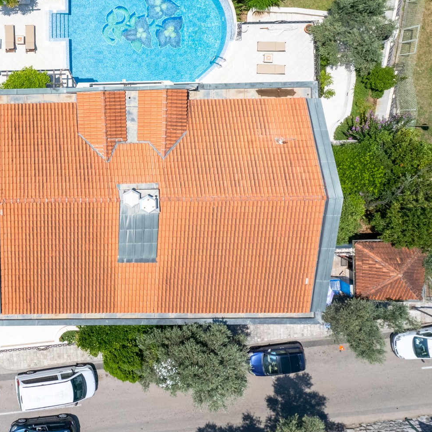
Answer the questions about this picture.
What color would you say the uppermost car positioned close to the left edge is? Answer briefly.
white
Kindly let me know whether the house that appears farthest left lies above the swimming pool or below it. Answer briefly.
below it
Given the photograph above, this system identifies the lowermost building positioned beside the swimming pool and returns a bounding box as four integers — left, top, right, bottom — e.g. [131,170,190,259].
[0,80,342,326]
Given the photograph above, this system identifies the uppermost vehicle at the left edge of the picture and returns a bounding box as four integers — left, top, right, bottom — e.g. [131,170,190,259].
[15,365,95,411]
